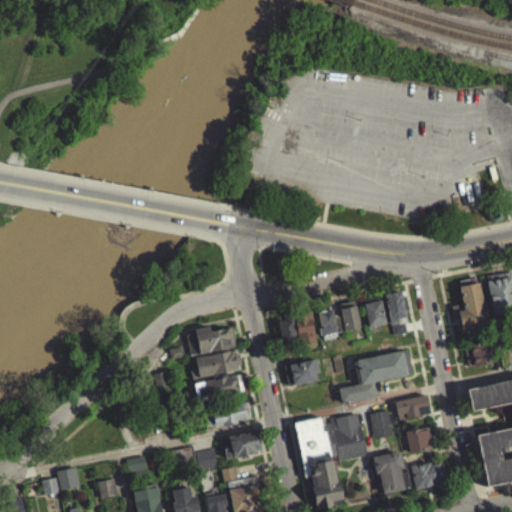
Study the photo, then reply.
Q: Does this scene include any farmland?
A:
No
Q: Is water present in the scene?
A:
Yes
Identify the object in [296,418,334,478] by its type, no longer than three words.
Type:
building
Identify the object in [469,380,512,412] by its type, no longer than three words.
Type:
building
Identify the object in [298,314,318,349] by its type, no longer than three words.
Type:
house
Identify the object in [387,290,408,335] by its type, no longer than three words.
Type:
house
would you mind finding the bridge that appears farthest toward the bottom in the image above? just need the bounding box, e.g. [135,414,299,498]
[0,162,226,243]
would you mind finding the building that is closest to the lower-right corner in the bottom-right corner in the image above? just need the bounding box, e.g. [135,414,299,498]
[478,428,512,486]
